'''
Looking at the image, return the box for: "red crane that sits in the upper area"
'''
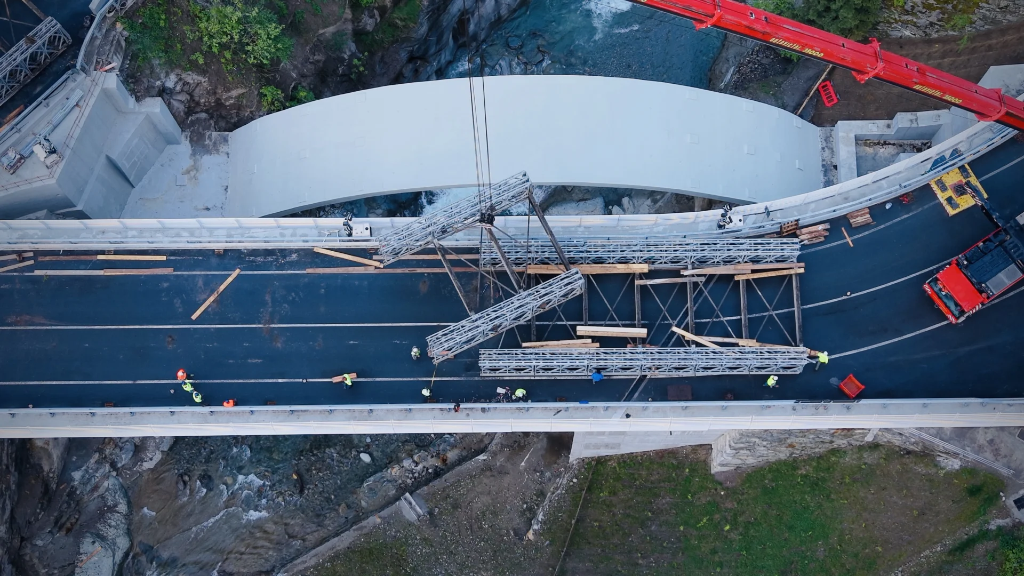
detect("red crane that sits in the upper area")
[547,0,1024,324]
